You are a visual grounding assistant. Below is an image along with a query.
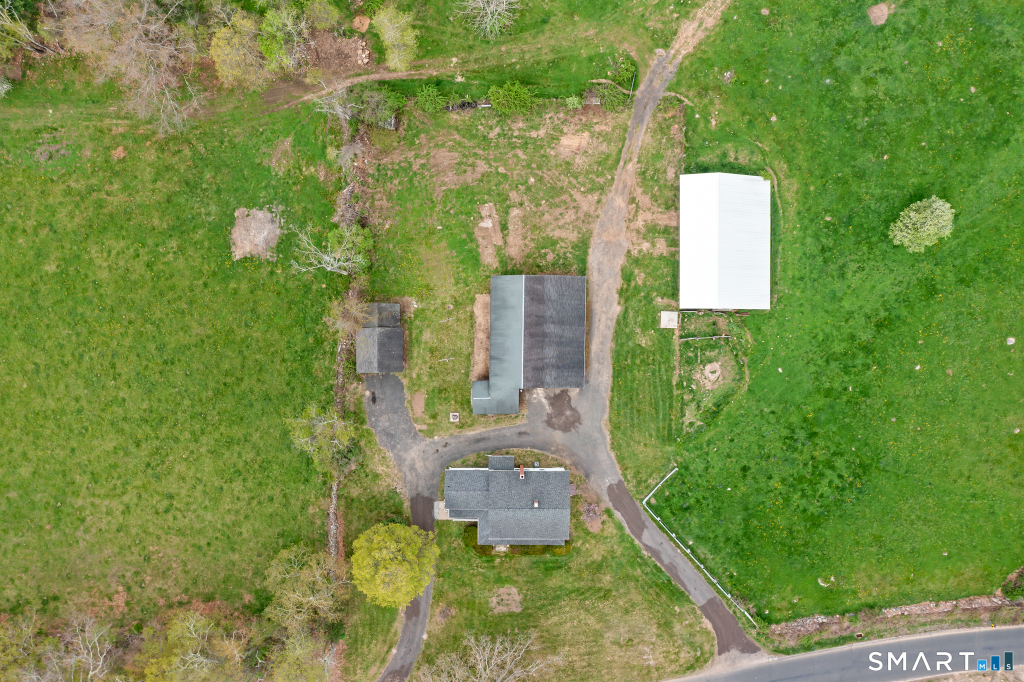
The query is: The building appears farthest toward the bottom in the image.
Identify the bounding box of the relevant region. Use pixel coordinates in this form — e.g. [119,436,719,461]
[444,454,577,554]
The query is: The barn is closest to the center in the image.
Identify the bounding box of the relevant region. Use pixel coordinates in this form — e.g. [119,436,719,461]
[472,275,587,414]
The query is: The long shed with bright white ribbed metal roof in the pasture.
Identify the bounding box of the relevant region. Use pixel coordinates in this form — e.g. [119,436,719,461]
[675,172,771,309]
